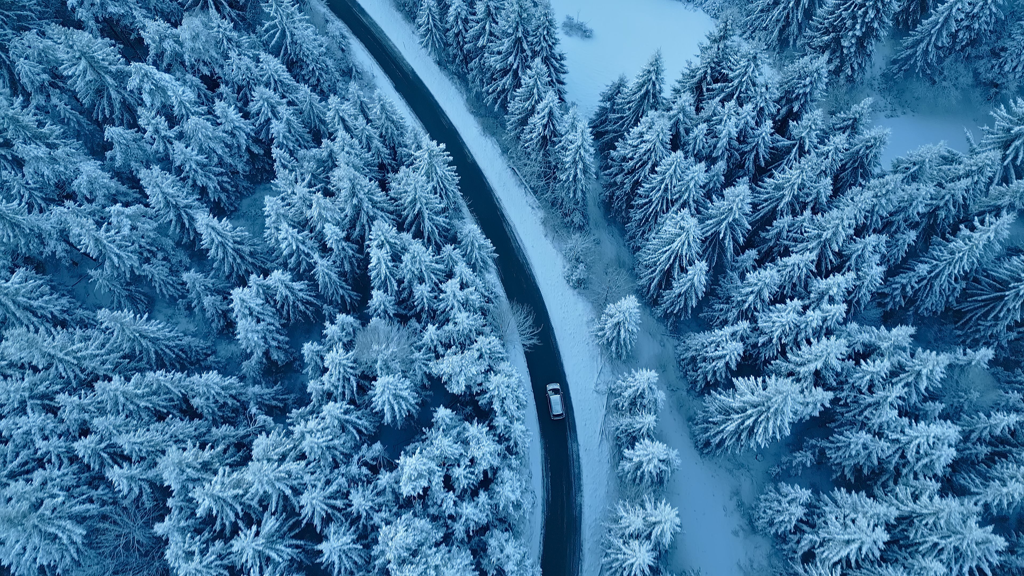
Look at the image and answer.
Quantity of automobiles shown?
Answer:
1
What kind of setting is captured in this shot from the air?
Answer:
forest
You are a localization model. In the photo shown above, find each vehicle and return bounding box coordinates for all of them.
[546,382,566,420]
